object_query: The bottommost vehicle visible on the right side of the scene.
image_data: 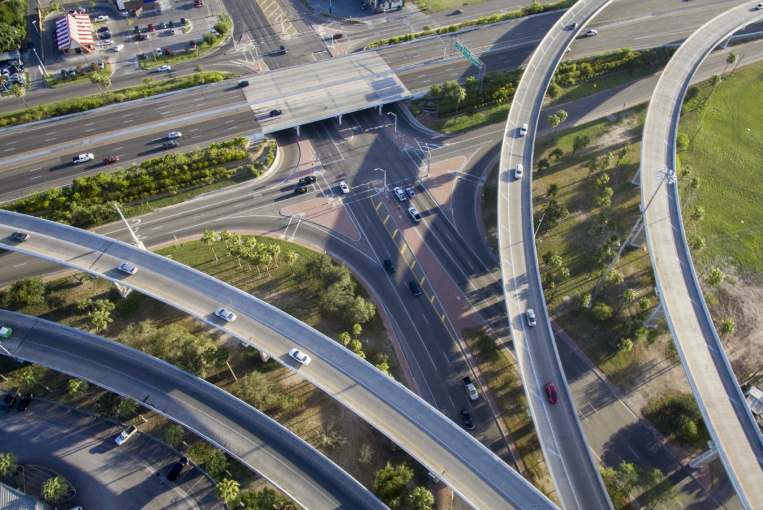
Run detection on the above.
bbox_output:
[460,408,475,430]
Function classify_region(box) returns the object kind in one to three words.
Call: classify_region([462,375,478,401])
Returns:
vehicle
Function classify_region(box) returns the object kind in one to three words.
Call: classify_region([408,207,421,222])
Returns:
vehicle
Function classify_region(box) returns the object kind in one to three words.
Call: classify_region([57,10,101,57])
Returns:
building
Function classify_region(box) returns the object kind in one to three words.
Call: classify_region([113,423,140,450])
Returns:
truck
